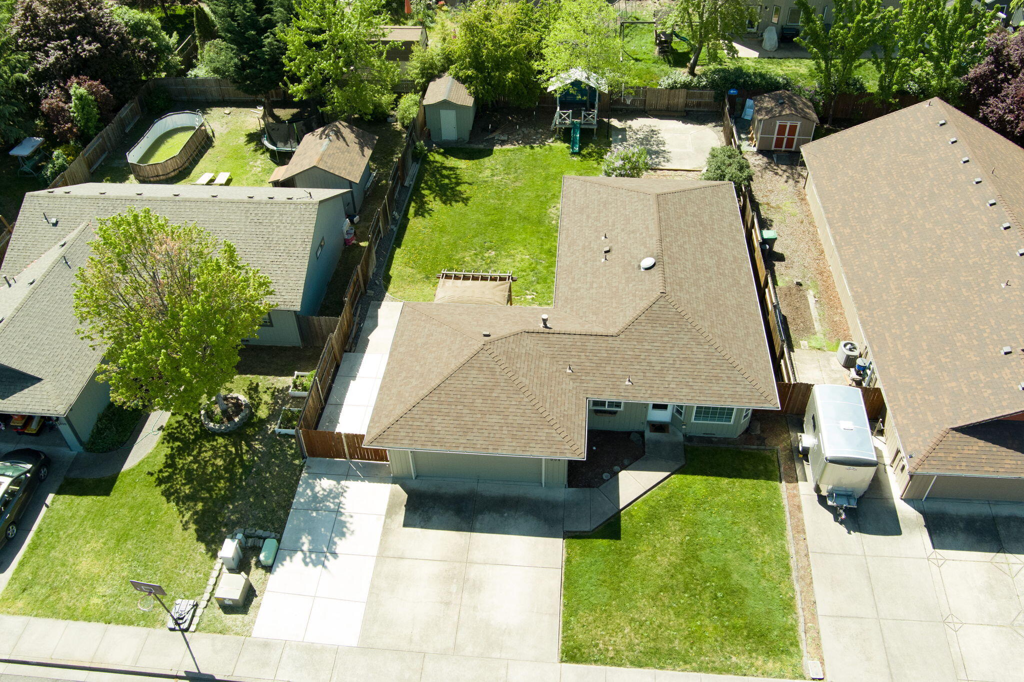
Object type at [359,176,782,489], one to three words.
house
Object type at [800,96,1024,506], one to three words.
house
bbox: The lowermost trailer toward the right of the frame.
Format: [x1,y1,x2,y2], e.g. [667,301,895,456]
[797,384,879,531]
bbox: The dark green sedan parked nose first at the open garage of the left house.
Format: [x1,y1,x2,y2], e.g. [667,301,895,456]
[0,448,49,544]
